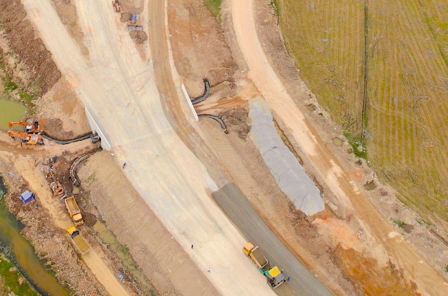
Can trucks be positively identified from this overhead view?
Yes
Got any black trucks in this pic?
No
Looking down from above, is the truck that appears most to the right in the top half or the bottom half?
bottom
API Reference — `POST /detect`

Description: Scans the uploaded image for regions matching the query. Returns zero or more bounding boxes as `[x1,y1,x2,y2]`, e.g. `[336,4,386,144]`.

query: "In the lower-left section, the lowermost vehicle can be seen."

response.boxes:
[63,222,93,257]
